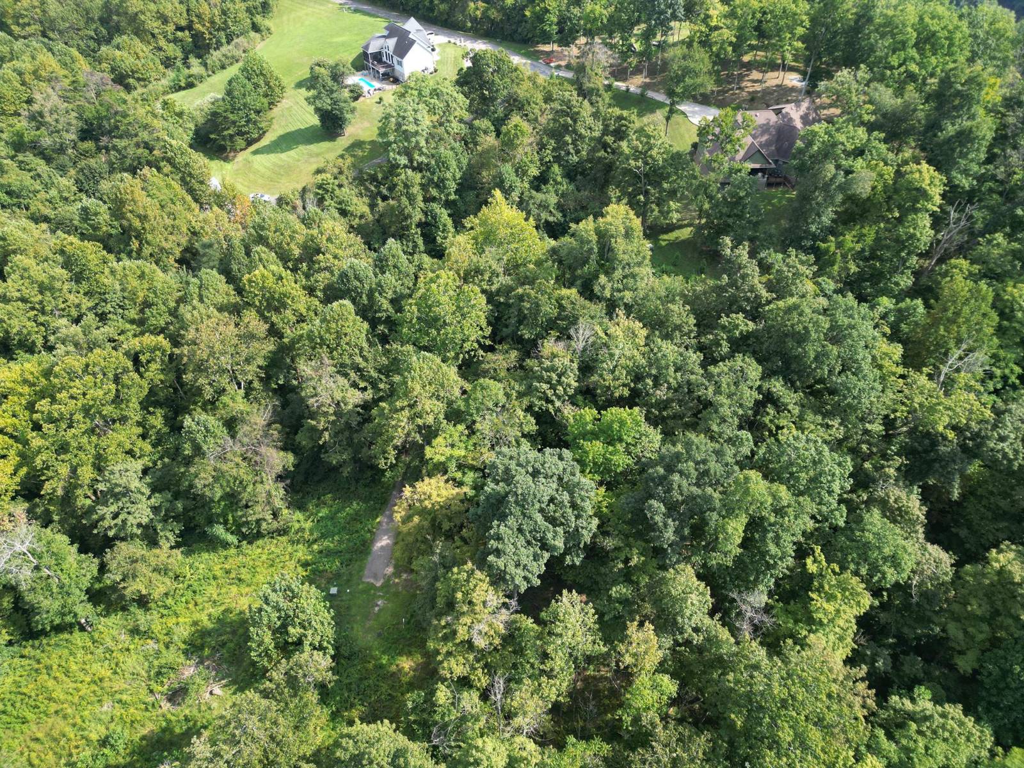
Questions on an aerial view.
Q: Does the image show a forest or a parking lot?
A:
forest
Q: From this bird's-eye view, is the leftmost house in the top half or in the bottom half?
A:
top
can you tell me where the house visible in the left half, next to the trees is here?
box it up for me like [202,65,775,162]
[356,17,433,83]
